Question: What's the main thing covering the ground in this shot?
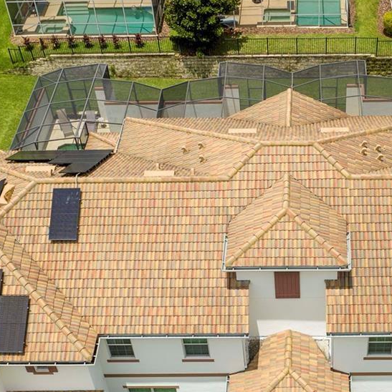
buildings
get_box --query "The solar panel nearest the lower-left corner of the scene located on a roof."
[0,296,28,352]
